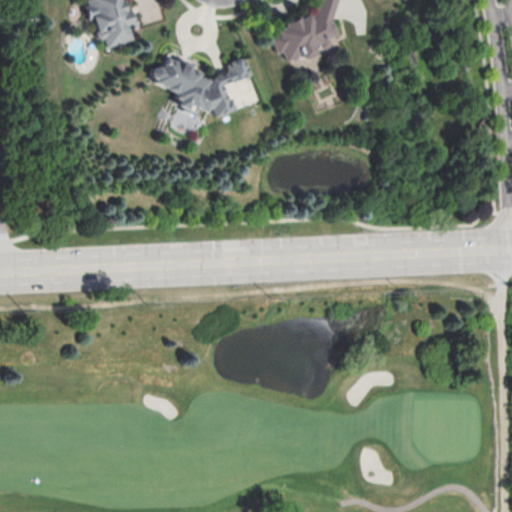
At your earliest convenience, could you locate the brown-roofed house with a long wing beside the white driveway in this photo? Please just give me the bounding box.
[268,0,342,66]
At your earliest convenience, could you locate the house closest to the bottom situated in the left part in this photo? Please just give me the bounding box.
[148,56,255,118]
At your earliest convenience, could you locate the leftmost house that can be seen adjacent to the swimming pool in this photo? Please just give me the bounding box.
[84,0,140,51]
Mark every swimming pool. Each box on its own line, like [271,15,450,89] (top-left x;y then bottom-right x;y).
[64,34,99,74]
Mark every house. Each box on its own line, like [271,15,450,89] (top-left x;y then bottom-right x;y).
[268,0,342,66]
[148,56,255,118]
[84,0,140,51]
